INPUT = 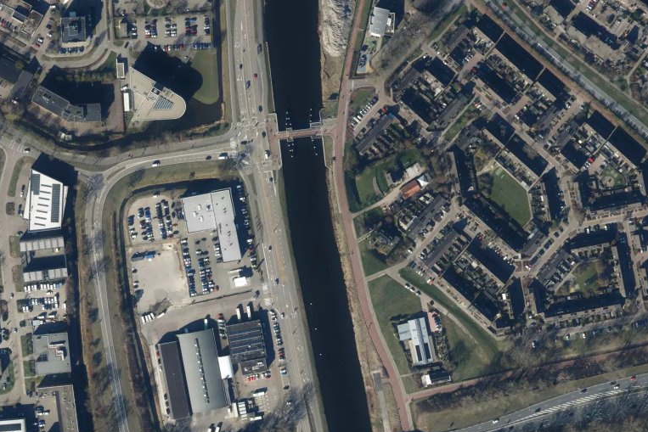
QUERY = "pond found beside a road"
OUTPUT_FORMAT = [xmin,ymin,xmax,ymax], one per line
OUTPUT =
[154,0,222,129]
